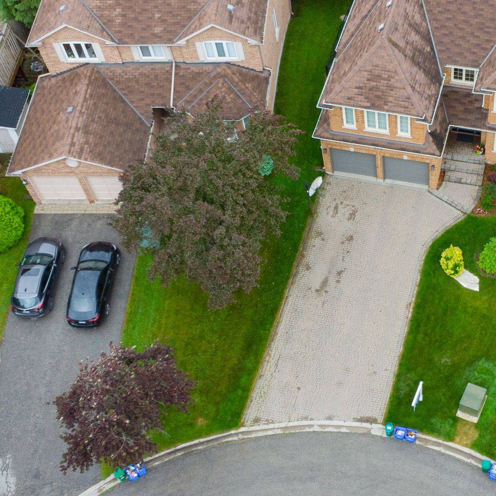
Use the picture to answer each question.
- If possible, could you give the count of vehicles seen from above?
two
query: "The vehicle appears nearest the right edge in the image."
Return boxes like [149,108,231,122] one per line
[62,245,118,331]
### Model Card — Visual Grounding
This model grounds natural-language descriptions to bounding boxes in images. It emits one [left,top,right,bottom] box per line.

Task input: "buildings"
[311,0,496,192]
[5,0,286,208]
